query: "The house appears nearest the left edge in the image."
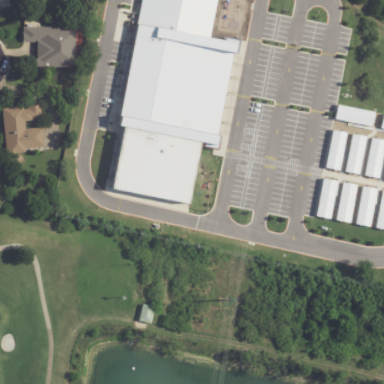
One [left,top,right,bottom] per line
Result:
[4,106,46,152]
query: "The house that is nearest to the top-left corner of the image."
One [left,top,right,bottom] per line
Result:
[24,27,76,66]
